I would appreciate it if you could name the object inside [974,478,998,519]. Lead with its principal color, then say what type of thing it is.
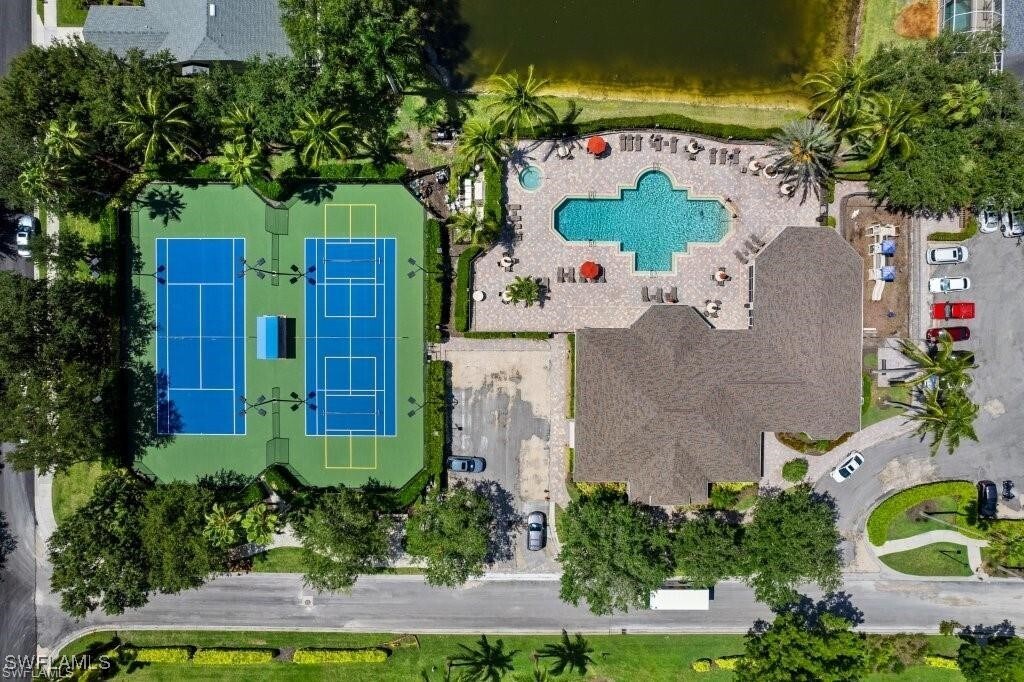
black car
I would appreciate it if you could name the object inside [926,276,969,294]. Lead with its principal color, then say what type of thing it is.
white car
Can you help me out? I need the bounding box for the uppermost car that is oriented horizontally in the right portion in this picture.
[925,247,968,266]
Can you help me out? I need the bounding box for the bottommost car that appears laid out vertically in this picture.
[527,509,546,550]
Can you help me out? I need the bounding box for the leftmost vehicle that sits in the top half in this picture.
[17,216,39,257]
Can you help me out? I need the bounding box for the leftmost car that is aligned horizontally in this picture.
[447,455,486,473]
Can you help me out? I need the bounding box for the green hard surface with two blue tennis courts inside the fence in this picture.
[131,183,424,488]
